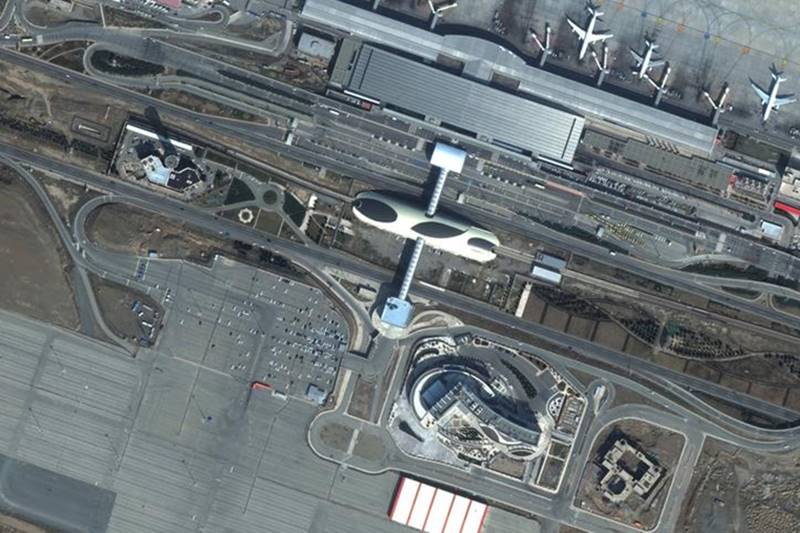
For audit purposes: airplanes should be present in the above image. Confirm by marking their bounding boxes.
[752,70,798,120]
[568,7,615,59]
[631,38,666,77]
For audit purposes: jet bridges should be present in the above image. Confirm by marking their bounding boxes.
[703,87,730,126]
[643,67,672,106]
[429,0,459,30]
[372,0,379,12]
[591,47,609,88]
[530,24,552,67]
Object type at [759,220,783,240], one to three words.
shed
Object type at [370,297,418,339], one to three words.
building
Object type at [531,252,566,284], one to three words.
building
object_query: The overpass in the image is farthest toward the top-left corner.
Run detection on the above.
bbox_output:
[195,80,317,126]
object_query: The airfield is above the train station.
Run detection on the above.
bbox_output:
[340,0,800,168]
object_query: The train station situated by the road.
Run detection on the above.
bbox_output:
[352,192,501,263]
